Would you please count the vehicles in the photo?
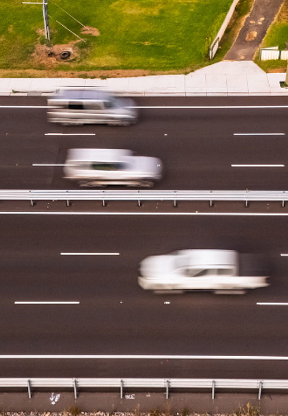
2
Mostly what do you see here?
paved ground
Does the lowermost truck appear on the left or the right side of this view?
right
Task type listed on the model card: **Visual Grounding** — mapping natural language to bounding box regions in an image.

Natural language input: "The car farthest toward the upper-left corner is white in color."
[65,142,158,185]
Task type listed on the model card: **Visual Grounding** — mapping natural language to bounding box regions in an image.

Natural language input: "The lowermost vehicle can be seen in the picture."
[144,243,265,292]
